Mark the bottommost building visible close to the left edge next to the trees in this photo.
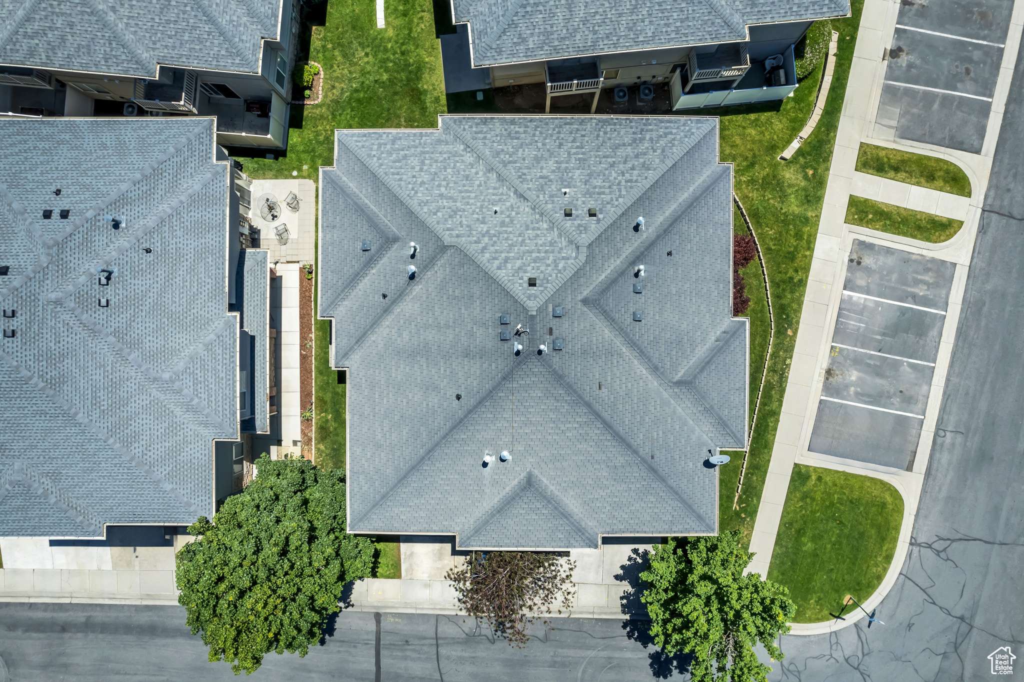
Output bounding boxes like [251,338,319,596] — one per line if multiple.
[0,115,283,541]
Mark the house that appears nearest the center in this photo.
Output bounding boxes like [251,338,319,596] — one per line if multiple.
[316,113,752,552]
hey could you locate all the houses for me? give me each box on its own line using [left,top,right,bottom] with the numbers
[0,115,283,541]
[316,113,752,552]
[447,0,853,113]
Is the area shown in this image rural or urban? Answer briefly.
urban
